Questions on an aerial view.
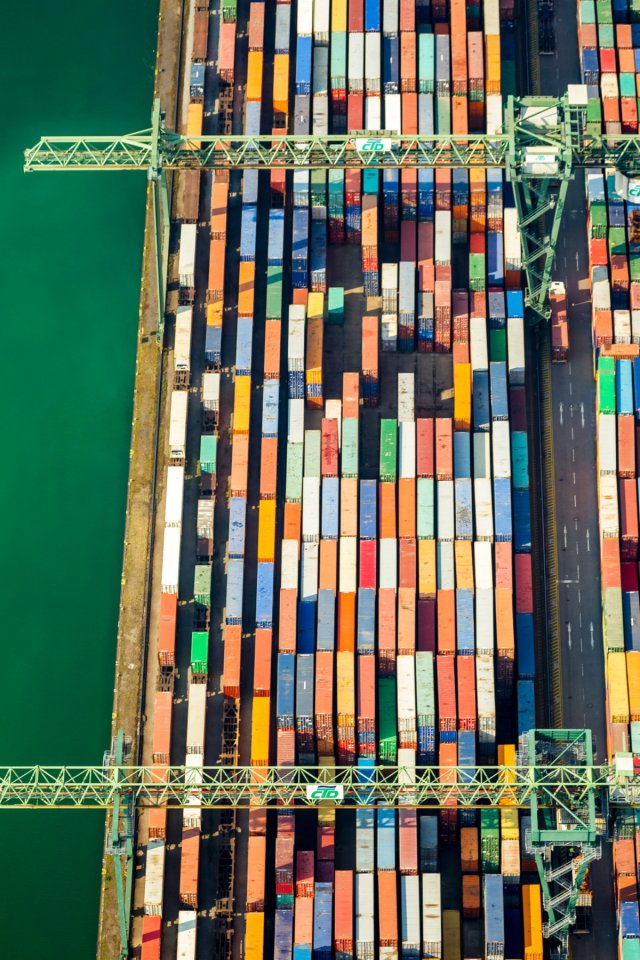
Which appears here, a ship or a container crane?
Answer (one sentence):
I can see a container crane in this picture.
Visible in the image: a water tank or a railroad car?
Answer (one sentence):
Visible in the photo is a railroad car.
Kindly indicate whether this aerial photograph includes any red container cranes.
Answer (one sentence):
No, no red container crane is visible in the scene.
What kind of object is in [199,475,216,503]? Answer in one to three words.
rail car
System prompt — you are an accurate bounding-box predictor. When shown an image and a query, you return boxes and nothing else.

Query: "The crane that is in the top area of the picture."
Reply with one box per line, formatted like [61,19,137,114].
[24,81,640,352]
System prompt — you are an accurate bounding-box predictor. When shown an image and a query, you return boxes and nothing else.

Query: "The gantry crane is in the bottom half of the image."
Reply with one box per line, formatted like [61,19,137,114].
[0,729,640,960]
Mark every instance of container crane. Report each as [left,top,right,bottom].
[0,729,640,960]
[24,81,640,352]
